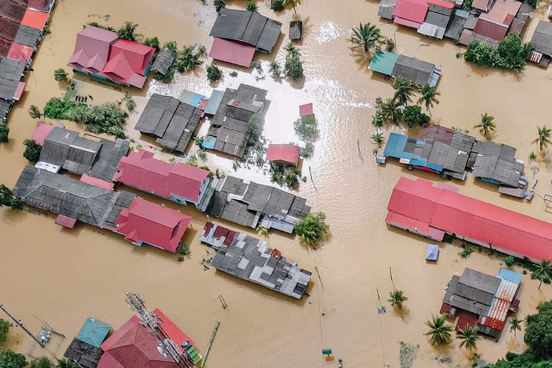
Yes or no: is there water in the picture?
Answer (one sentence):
Yes, water can be seen from above here.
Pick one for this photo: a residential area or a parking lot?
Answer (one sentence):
This looks like a residential area.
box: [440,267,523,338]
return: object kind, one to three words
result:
house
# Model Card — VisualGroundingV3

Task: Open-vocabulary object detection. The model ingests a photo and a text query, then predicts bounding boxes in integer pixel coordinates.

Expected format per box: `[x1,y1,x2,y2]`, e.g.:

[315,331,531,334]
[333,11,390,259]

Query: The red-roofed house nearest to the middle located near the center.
[267,145,300,166]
